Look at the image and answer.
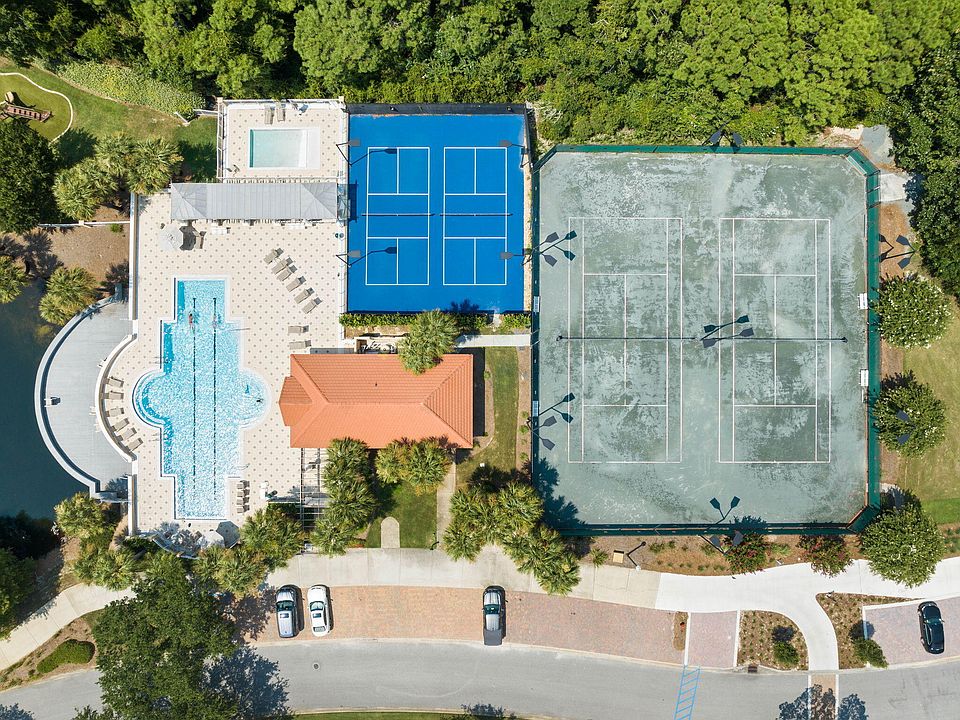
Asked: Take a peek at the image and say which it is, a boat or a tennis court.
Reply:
tennis court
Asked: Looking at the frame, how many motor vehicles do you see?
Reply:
4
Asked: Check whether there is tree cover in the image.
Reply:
Yes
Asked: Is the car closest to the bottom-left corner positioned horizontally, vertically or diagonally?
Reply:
vertically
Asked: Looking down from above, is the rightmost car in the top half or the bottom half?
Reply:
bottom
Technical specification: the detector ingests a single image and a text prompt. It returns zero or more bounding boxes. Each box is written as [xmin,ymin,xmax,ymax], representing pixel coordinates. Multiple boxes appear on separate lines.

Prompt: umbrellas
[205,526,226,547]
[160,228,186,253]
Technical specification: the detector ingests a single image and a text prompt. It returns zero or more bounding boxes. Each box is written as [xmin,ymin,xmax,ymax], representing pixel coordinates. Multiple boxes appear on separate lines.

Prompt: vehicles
[308,585,332,636]
[276,586,302,638]
[915,602,945,653]
[482,586,505,646]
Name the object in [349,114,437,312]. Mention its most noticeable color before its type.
blue sports court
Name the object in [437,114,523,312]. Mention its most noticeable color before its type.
blue sports court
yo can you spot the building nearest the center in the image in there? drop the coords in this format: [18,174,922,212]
[279,353,473,449]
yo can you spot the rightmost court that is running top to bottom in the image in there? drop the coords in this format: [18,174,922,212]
[701,155,866,528]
